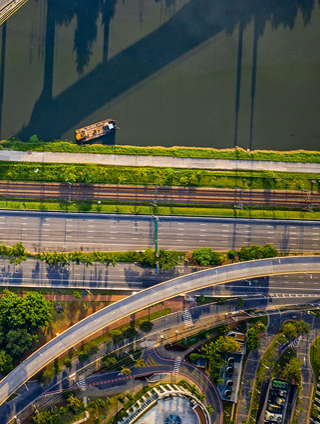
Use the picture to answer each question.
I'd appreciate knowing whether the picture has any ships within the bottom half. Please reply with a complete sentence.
No, I can find no ship within the bottom half.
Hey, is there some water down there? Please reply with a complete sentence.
Yes, there's water in this view.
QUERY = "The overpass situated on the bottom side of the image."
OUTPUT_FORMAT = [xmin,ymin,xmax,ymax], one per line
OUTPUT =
[0,254,320,408]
